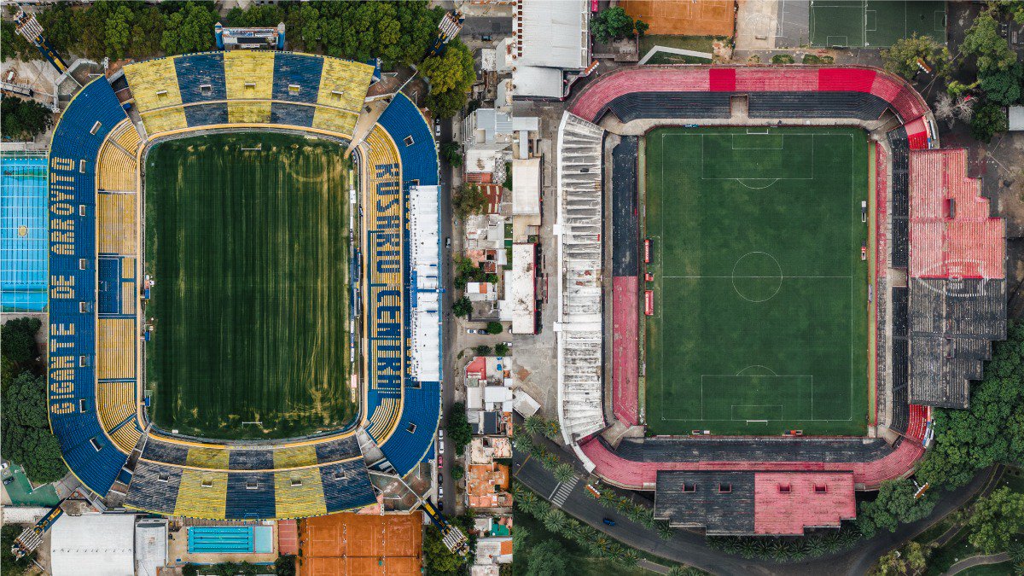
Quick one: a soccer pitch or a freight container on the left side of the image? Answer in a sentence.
The feature located on the left side of the image is a soccer pitch.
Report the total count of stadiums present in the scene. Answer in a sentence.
Looking from above, you can make out 2 stadiums.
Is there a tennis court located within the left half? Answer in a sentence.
Yes, a tennis court appears within the left half.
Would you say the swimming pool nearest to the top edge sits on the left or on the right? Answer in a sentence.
The swimming pool nearest to the top edge is on the left side of the image.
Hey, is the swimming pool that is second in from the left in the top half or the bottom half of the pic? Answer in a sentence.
The bottom half of the photo is where the swimming pool that is second in from the left is.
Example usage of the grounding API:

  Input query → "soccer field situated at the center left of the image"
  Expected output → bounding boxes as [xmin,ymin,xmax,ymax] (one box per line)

[145,133,359,439]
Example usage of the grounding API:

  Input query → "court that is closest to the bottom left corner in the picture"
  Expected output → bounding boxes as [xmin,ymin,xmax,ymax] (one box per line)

[0,461,56,506]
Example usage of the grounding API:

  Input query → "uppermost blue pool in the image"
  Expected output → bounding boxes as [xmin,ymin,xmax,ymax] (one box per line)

[0,158,48,311]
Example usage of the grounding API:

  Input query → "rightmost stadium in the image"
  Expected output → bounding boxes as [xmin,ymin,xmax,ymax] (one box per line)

[552,62,1008,537]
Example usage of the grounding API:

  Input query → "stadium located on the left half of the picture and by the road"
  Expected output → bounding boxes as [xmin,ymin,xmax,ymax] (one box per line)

[44,49,446,521]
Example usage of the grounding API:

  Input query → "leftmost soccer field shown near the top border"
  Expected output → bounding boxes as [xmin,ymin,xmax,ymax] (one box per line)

[810,0,863,47]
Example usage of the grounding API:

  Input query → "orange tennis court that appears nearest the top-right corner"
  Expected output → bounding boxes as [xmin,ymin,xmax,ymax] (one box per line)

[696,0,735,35]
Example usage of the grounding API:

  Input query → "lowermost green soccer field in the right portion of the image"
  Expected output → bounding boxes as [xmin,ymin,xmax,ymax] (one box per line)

[646,126,869,436]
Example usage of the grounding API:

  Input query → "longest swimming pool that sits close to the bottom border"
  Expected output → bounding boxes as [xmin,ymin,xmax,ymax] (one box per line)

[187,526,255,554]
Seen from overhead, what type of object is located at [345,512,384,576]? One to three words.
tennis court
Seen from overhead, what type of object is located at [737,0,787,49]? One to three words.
basketball court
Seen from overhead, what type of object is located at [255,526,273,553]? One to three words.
swimming pool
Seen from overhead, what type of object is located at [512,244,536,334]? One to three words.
building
